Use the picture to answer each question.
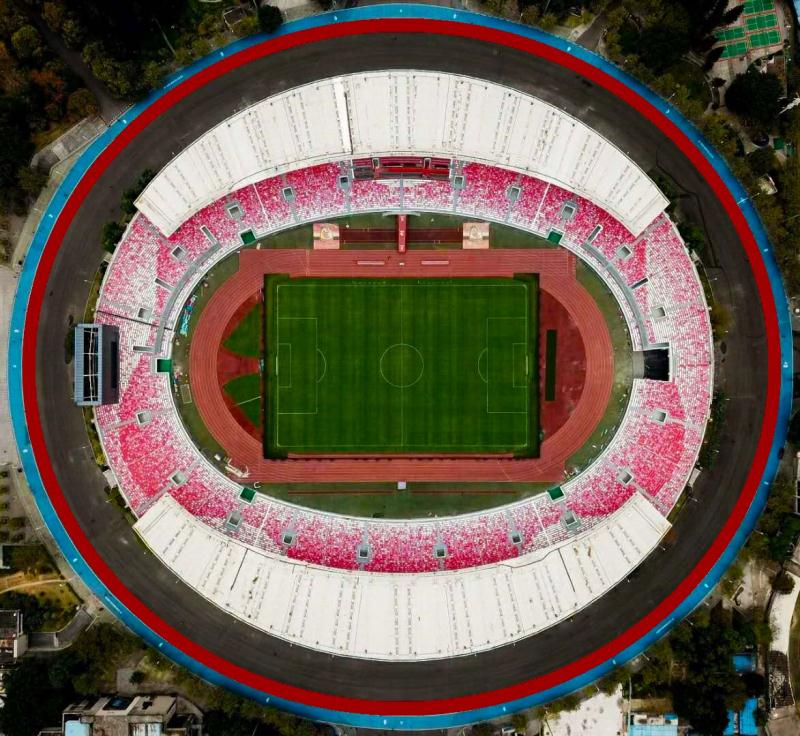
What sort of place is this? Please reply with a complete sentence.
This image shows a sports ground.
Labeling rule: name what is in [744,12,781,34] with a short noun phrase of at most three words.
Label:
sports court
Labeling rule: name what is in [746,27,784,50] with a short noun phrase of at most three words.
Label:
sports court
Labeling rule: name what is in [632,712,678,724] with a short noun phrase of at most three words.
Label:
building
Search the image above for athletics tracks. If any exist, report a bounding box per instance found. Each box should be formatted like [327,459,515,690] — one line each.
[191,248,614,482]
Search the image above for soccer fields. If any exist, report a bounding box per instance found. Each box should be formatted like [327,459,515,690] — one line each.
[263,273,540,458]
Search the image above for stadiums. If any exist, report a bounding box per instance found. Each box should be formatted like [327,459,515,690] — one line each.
[95,70,715,661]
